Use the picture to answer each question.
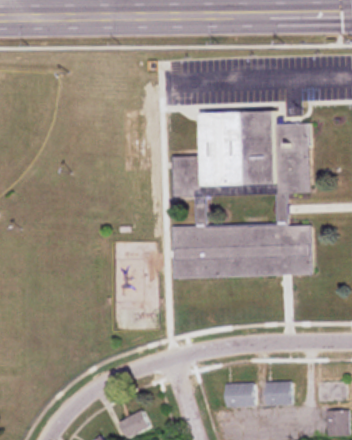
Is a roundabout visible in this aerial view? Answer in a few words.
No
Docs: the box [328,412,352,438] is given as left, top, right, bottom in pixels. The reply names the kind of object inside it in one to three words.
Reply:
house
